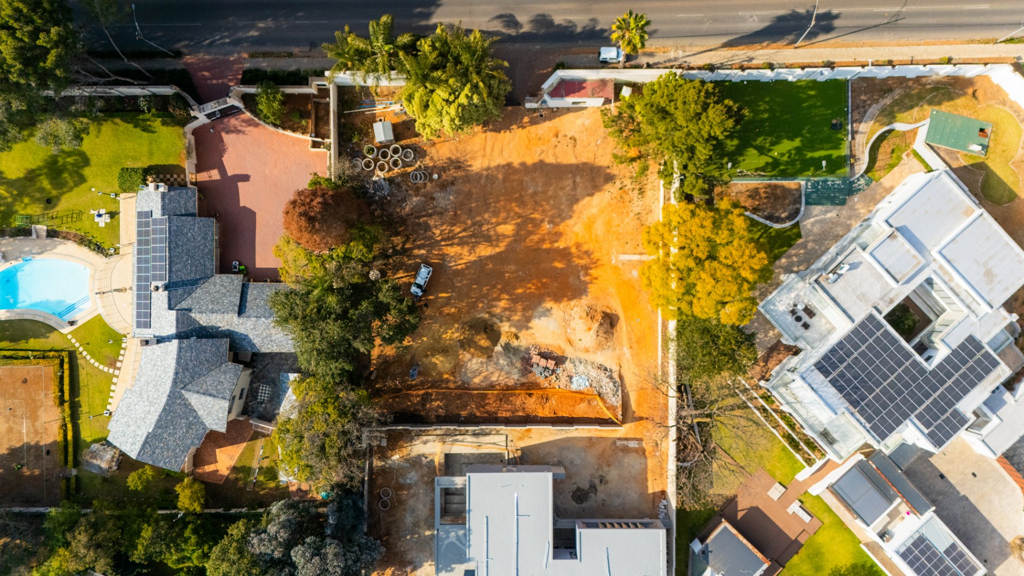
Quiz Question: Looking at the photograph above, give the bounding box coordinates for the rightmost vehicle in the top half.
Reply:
[597,46,625,62]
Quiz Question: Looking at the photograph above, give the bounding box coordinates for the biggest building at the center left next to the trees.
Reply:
[107,183,301,472]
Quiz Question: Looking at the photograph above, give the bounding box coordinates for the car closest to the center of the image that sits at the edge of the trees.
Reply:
[410,262,434,298]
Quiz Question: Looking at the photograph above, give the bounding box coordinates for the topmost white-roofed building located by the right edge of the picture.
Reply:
[752,170,1024,461]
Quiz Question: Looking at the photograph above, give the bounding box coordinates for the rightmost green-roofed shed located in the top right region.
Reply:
[923,110,992,157]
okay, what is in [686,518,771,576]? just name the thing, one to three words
building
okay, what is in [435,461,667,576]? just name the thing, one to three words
house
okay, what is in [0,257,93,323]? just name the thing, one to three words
swimming pool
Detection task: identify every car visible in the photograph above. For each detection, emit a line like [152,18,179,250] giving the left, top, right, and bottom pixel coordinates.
[410,262,434,298]
[597,46,625,62]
